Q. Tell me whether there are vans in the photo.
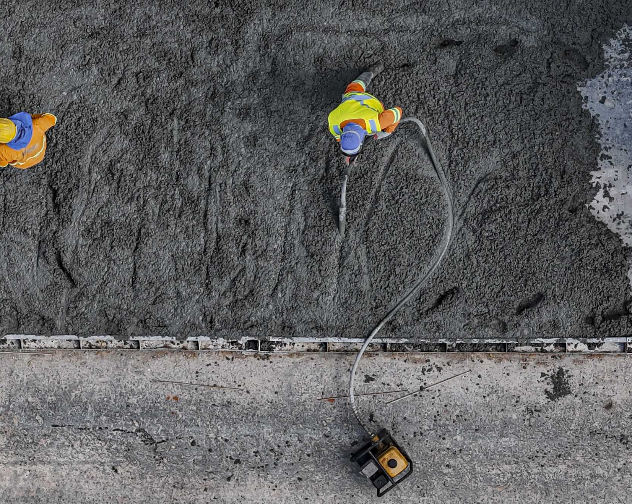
No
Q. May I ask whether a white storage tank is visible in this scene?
No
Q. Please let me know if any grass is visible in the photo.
No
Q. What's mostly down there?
paved ground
